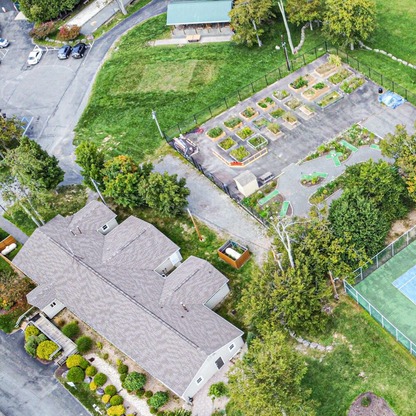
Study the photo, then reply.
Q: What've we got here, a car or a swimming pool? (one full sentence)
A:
It is a car that can be seen here.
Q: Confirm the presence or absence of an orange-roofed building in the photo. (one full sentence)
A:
No, there appears to be no orange-roofed building in this shot.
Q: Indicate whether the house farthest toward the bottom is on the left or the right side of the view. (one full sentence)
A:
The house farthest toward the bottom appears in the left half of the scene.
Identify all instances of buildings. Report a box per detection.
[11,201,246,403]
[167,0,239,33]
[231,171,258,196]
